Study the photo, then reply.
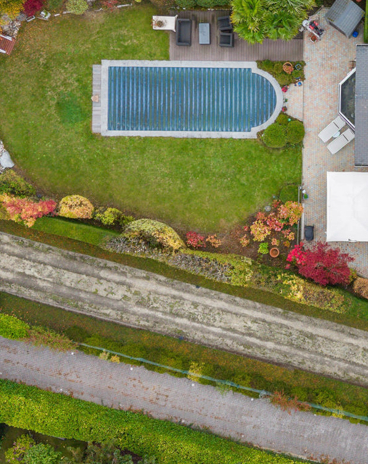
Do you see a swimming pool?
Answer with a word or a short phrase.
Yes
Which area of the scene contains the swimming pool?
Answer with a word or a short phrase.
top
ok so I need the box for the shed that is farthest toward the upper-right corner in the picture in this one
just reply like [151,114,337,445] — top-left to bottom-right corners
[326,0,365,37]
